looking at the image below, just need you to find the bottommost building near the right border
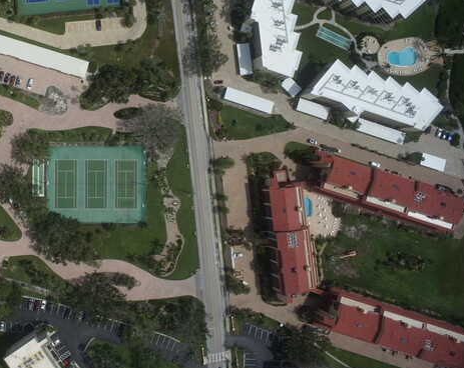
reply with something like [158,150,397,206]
[307,286,464,368]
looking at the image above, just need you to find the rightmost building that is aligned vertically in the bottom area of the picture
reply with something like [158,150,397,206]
[257,168,319,302]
